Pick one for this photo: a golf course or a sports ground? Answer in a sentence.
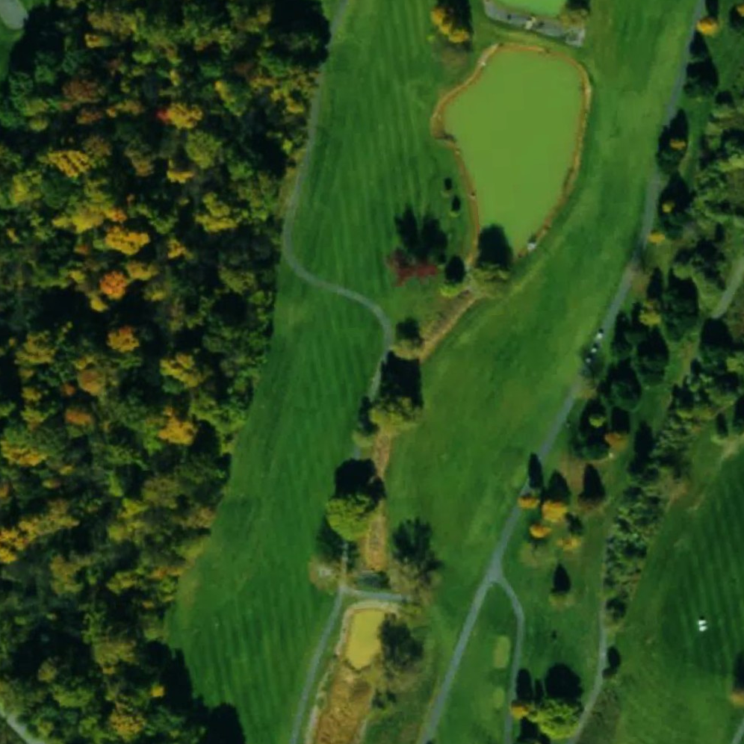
The picture captures a golf course.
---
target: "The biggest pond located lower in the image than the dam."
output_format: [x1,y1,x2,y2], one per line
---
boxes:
[437,39,590,271]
